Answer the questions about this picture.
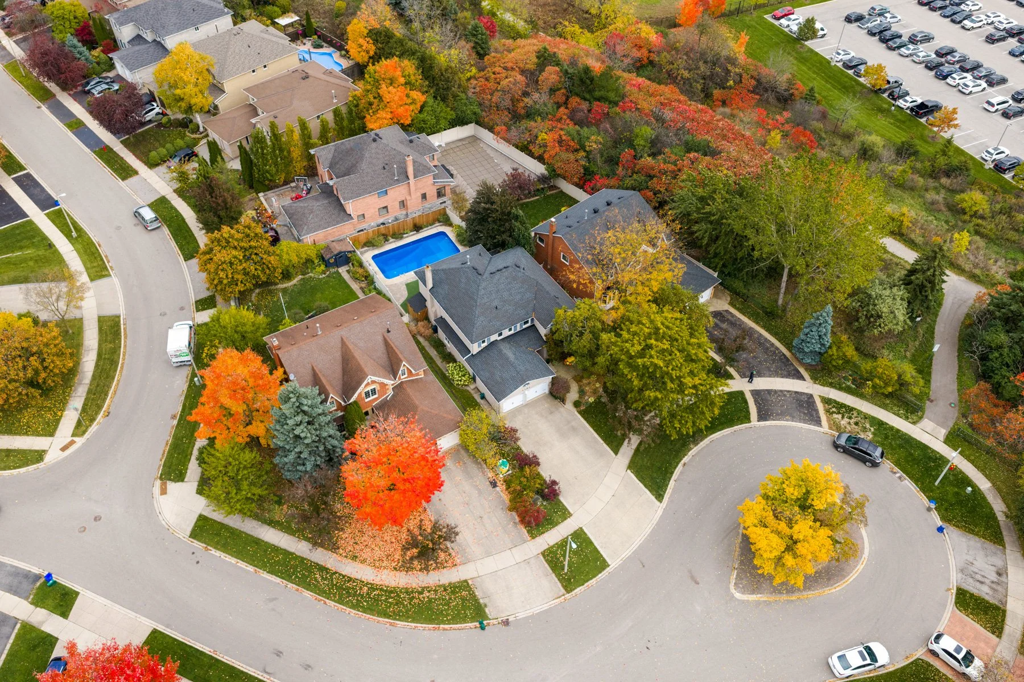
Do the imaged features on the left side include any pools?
Yes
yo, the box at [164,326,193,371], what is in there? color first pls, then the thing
white truck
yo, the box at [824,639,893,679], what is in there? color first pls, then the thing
white car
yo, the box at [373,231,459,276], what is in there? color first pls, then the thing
blue swimming pool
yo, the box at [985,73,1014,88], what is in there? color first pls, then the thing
gray car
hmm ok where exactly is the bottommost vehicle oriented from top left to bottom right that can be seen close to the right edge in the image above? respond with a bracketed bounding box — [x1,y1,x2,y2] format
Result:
[921,623,990,682]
